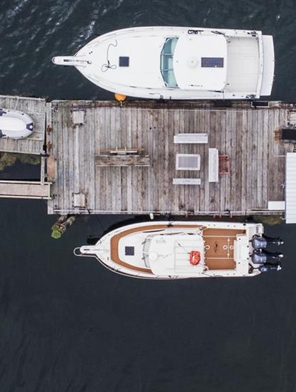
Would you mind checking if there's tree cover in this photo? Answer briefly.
No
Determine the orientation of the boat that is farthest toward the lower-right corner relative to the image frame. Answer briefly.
from left to right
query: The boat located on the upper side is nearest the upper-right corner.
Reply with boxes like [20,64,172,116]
[52,26,275,101]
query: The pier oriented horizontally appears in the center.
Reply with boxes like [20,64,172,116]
[42,101,296,217]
